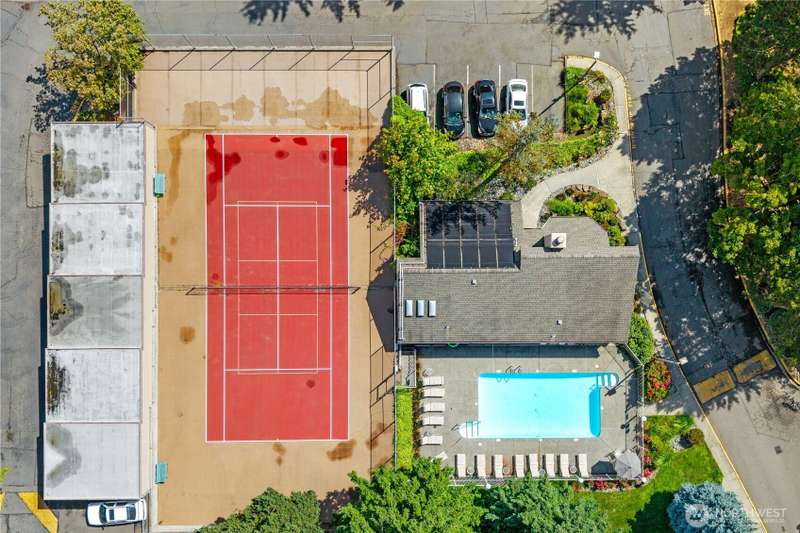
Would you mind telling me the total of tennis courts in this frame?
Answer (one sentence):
I count 1 tennis court.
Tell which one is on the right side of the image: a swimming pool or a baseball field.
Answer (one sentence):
There is a swimming pool on the right side of the image.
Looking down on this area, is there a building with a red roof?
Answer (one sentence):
No, this view has no building with a red roof in it.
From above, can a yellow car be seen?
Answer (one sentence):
No, I can see no yellow car in this picture.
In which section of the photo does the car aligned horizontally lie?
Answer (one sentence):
The car aligned horizontally is in the bottom left part of the image.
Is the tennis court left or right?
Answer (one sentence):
It is on the left.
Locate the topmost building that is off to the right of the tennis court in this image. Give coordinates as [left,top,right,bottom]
[400,201,640,347]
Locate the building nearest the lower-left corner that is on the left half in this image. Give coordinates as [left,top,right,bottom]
[43,120,155,500]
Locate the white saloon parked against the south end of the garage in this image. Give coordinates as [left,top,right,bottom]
[88,499,149,528]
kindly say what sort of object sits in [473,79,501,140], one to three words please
car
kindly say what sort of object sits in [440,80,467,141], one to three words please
car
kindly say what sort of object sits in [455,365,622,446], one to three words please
swimming pool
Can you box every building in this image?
[43,120,155,500]
[400,201,640,347]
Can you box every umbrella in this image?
[614,450,642,478]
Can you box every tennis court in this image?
[133,50,392,525]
